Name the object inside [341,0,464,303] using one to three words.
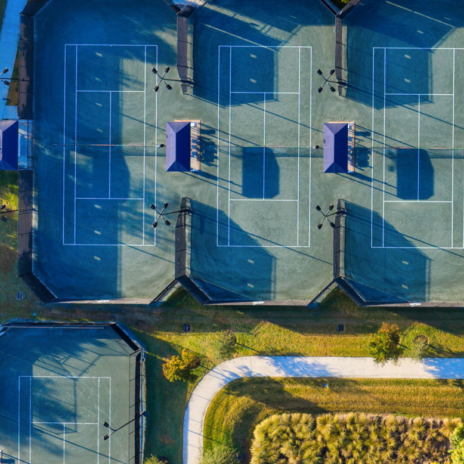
tennis court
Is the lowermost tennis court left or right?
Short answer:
left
